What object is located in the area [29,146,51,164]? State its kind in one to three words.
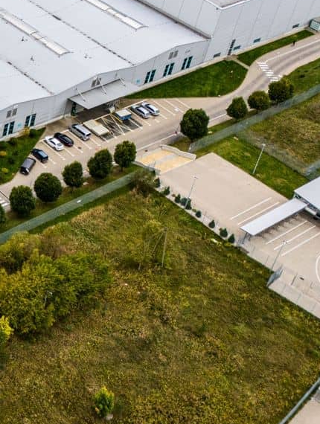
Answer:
car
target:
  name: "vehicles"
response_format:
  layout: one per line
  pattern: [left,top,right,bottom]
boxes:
[29,146,51,164]
[129,103,152,120]
[54,131,76,148]
[43,135,65,151]
[140,99,162,116]
[19,156,37,174]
